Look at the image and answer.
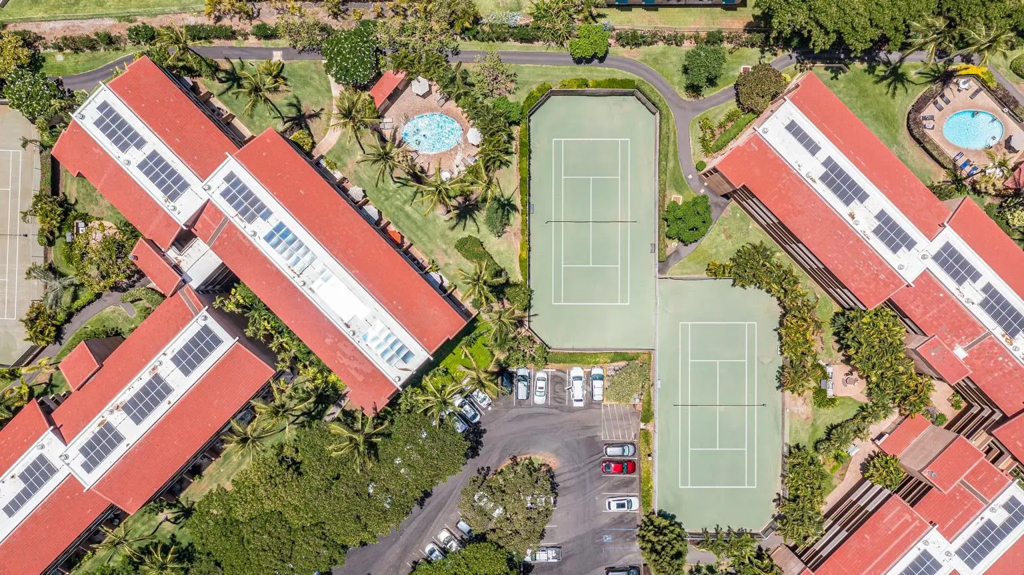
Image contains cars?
Yes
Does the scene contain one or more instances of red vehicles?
Yes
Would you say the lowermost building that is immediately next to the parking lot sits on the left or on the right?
right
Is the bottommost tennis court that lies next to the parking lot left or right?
right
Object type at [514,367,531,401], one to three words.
car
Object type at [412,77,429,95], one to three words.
umbrella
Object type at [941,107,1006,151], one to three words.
swimming pool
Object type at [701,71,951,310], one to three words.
building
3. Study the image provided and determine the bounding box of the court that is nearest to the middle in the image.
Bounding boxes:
[530,95,654,350]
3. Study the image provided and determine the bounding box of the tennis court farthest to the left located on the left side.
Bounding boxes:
[0,104,42,366]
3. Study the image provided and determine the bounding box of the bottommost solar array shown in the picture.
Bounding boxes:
[899,548,943,575]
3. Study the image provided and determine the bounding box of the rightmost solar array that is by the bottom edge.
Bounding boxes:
[954,486,1024,570]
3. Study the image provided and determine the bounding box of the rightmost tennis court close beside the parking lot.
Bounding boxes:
[658,278,781,532]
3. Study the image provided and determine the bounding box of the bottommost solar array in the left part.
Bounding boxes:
[2,452,58,518]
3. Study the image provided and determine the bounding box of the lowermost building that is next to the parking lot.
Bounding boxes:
[769,457,1024,575]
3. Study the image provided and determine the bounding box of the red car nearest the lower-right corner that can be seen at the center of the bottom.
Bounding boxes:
[602,460,634,476]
